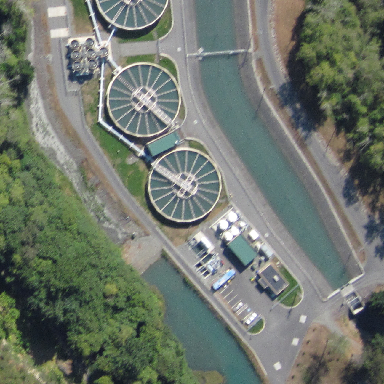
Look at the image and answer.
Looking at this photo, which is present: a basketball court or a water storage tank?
water storage tank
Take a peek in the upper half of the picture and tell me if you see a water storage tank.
Yes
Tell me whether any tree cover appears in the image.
Yes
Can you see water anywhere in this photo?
Yes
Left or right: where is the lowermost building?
right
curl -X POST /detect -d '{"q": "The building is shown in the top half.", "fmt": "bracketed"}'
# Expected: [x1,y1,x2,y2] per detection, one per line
[148,132,179,156]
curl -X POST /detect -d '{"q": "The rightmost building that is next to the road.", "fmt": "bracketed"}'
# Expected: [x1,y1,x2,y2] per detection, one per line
[257,263,289,295]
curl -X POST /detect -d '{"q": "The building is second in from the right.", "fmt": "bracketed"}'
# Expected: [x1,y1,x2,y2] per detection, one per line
[228,235,257,265]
